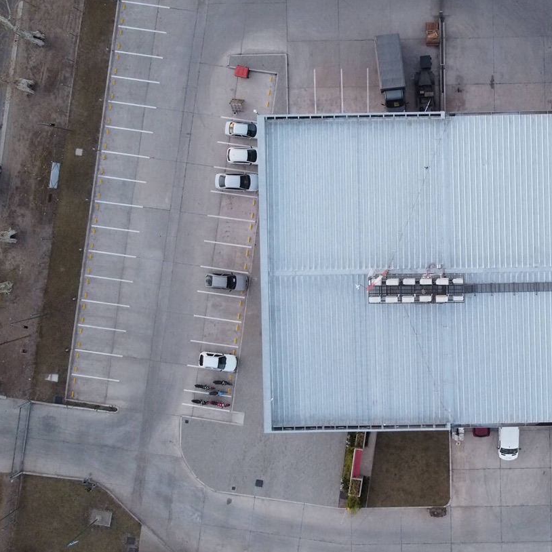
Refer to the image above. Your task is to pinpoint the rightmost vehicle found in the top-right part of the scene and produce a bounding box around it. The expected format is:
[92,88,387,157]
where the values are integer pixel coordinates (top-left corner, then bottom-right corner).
[412,51,437,111]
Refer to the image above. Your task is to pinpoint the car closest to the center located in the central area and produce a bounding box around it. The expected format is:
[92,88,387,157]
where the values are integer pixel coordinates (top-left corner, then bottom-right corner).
[203,273,247,293]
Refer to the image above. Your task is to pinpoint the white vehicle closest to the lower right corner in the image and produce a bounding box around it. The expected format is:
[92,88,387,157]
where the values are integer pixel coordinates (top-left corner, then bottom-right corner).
[499,428,521,461]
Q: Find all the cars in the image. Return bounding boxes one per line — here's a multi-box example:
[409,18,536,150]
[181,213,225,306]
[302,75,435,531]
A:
[203,273,247,293]
[213,172,257,193]
[222,120,256,140]
[473,429,492,439]
[197,353,236,374]
[225,146,257,166]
